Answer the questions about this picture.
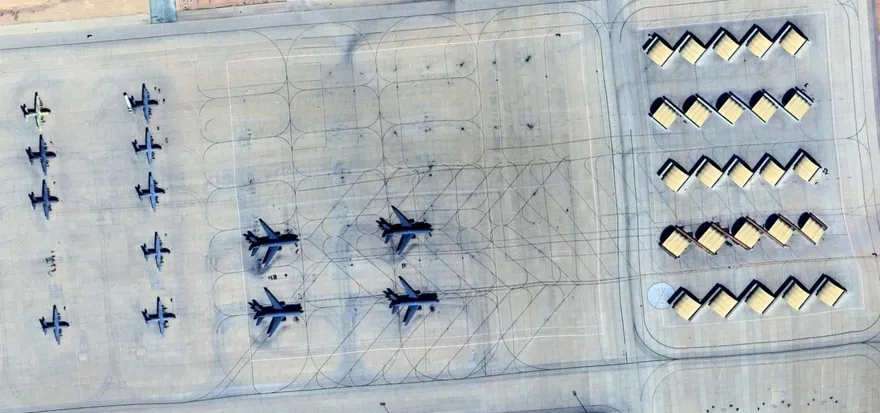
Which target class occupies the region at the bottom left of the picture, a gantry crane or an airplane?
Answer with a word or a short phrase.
airplane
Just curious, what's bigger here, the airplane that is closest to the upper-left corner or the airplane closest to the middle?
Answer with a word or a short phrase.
the airplane closest to the middle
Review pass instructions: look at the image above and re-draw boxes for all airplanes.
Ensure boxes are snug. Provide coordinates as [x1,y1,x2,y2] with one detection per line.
[133,90,157,124]
[30,142,55,175]
[148,303,173,337]
[249,219,299,265]
[382,210,432,256]
[33,185,58,219]
[254,291,303,337]
[389,282,439,327]
[25,97,50,131]
[139,178,164,211]
[144,238,169,271]
[136,132,160,166]
[44,311,69,344]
